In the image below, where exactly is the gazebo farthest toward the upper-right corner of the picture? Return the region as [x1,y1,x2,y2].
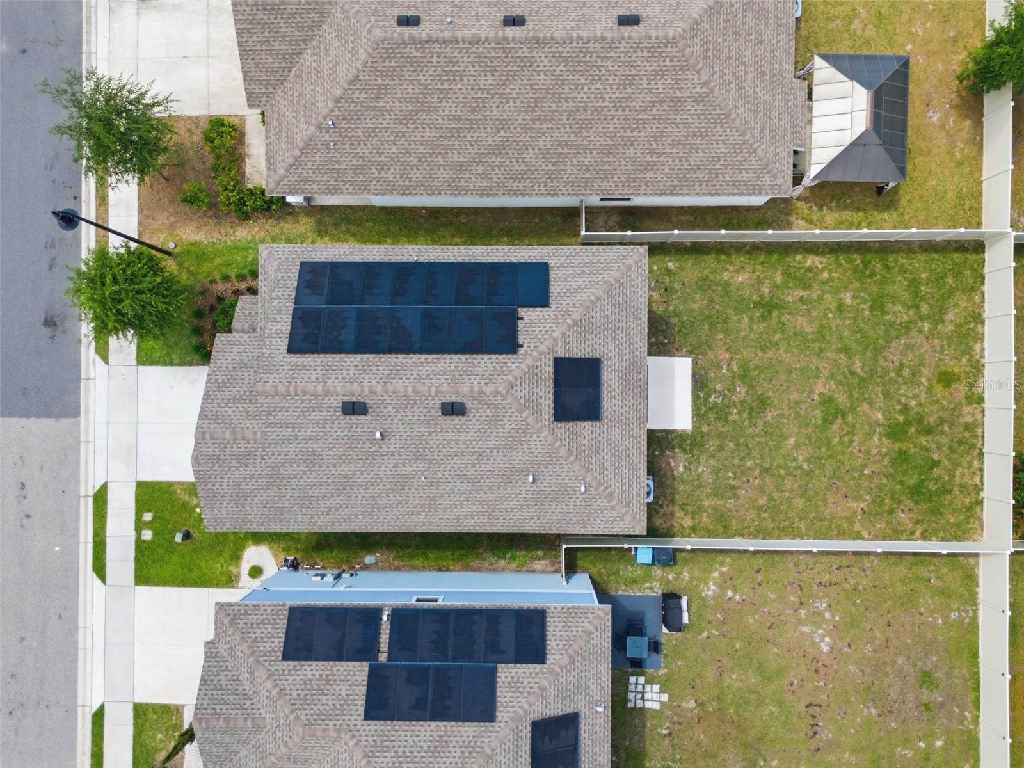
[785,53,910,200]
